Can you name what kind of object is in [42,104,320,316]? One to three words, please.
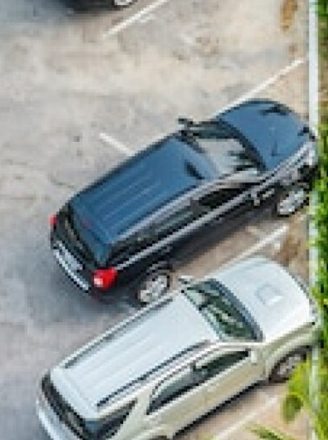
car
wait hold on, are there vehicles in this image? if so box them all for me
[42,104,320,316]
[31,255,319,440]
